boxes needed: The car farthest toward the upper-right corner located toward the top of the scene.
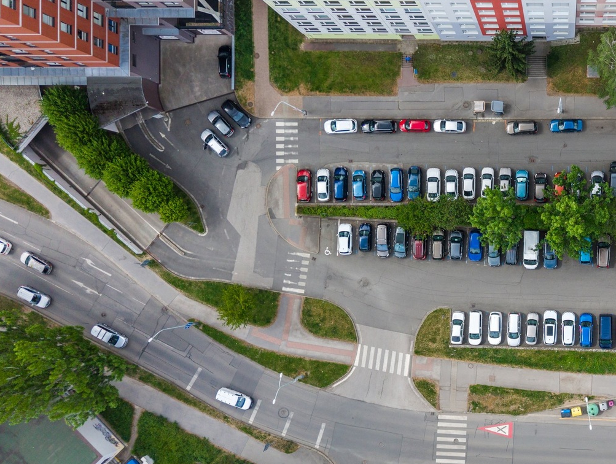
[550,117,583,134]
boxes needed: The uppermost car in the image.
[216,45,234,79]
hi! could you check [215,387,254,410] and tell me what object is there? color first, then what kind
white car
